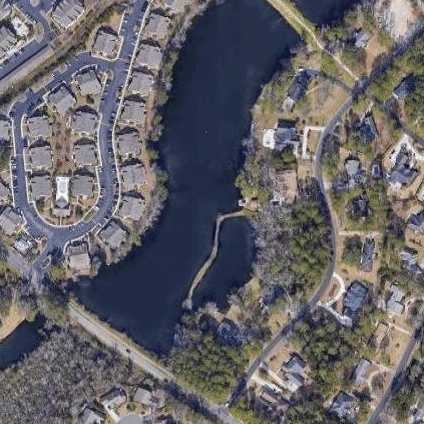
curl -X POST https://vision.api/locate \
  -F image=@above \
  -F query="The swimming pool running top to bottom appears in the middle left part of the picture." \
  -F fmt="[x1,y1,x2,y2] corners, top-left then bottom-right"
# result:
[57,176,69,204]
